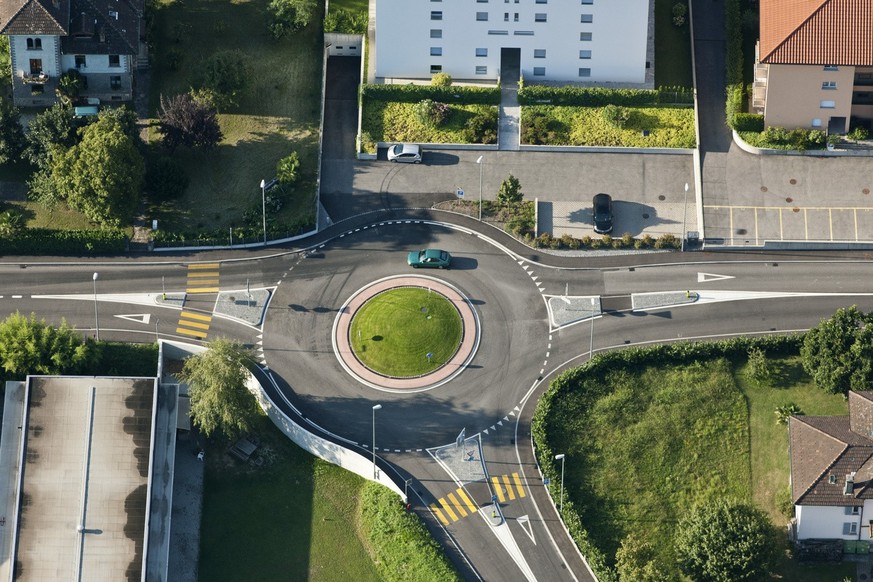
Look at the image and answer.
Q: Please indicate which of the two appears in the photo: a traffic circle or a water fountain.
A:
traffic circle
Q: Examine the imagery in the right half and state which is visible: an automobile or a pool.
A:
automobile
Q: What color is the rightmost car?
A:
black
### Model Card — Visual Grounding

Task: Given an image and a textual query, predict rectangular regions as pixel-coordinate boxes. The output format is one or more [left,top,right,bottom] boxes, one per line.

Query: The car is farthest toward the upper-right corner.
[593,193,614,233]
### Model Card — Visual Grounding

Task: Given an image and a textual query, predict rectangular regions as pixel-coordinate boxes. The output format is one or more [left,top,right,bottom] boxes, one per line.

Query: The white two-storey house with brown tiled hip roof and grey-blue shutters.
[789,395,873,546]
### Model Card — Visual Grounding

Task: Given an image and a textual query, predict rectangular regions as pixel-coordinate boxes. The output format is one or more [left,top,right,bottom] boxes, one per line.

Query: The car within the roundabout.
[408,248,451,268]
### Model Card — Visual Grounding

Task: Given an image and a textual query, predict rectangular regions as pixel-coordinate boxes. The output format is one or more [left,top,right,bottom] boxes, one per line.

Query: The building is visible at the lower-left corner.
[0,374,179,582]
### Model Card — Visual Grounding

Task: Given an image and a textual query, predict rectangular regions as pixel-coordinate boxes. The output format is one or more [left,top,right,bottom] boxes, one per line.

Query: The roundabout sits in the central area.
[256,221,552,452]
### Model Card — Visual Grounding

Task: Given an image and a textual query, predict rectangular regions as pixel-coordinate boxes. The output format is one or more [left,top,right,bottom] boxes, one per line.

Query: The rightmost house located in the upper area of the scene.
[750,0,873,130]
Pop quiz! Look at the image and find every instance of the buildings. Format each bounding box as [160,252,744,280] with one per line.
[750,0,873,130]
[0,0,148,106]
[789,395,873,546]
[326,32,361,55]
[376,0,650,84]
[0,374,179,582]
